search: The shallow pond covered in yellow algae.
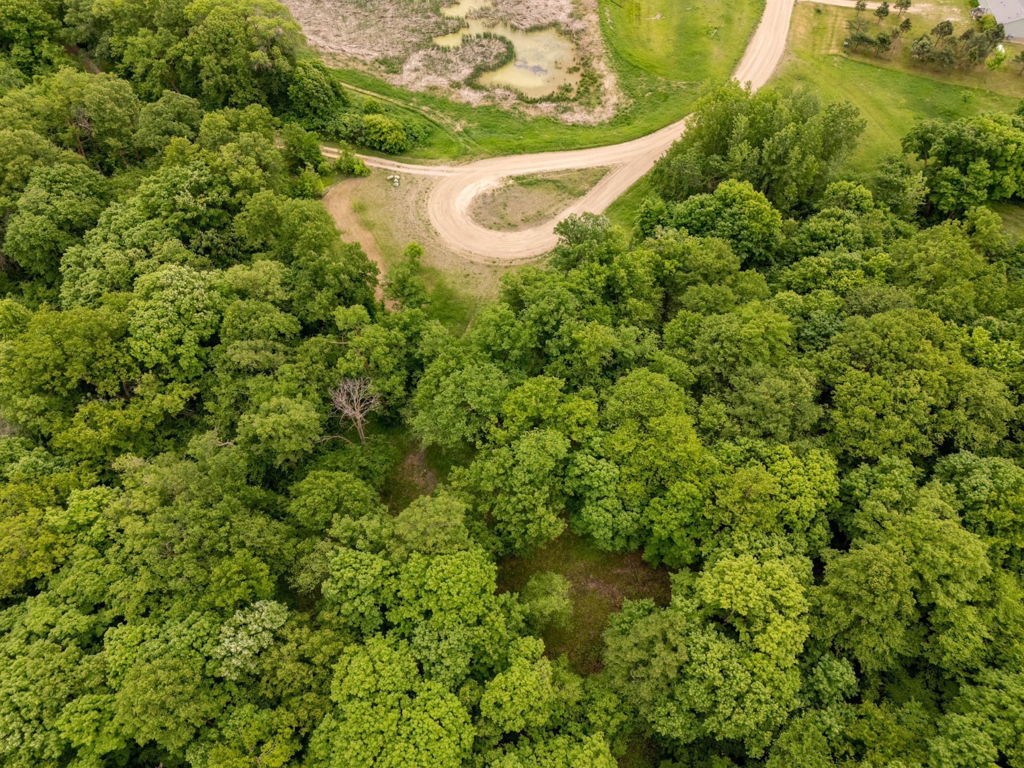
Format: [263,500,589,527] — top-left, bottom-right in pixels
[433,0,585,99]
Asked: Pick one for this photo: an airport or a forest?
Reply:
forest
